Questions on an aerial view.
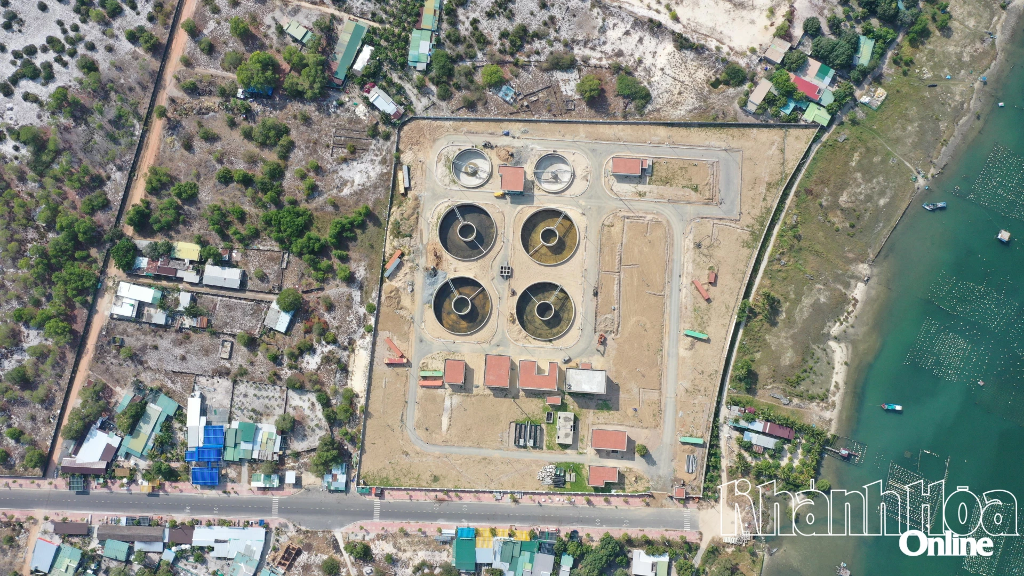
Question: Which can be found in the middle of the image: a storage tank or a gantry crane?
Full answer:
What appears in the middle of the image is a storage tank.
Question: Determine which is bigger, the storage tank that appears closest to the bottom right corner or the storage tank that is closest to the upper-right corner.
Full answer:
Of the two, the storage tank that appears closest to the bottom right corner is larger and the storage tank that is closest to the upper-right corner is the smaller one.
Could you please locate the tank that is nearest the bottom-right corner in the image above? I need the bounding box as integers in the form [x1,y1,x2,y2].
[516,282,575,340]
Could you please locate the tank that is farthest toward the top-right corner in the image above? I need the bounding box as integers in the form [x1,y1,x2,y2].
[534,154,573,193]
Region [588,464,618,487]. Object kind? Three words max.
building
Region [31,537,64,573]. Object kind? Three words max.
house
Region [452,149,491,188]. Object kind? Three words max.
storage tank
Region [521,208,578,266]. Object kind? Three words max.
storage tank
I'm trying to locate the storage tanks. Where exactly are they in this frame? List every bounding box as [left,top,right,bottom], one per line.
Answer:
[432,276,491,335]
[534,154,573,193]
[452,149,491,188]
[516,282,575,340]
[439,204,497,260]
[521,208,578,266]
